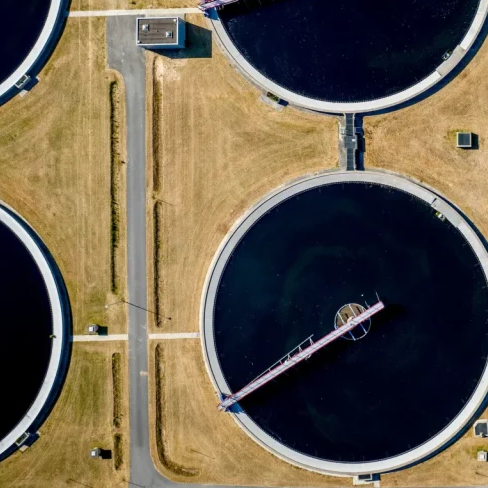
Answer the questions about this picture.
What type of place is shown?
industrial area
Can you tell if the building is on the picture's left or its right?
left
